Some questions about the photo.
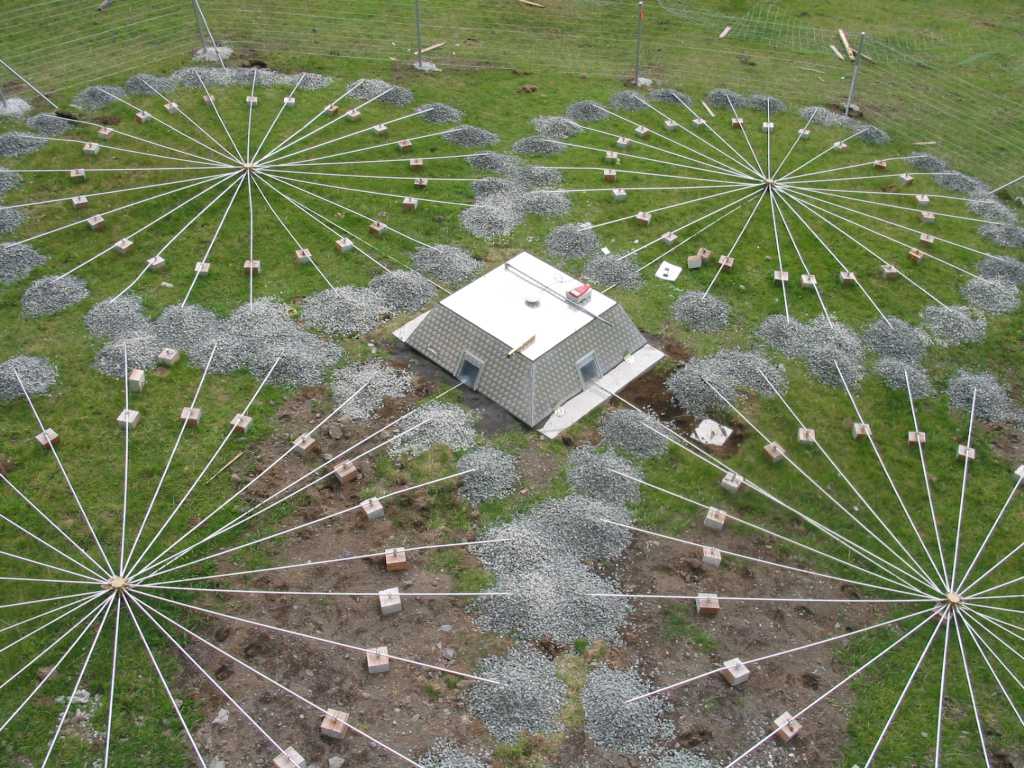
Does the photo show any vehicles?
No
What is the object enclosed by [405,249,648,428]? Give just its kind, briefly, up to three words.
shed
